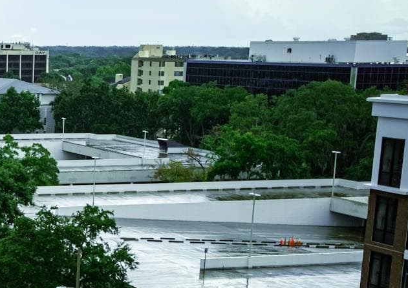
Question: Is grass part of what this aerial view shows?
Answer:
No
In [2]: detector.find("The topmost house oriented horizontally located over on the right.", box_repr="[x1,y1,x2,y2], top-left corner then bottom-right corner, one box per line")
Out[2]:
[248,32,408,63]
